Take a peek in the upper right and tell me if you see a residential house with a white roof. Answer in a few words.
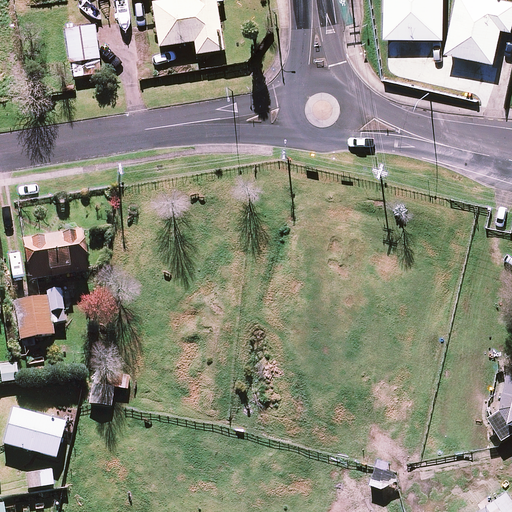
Yes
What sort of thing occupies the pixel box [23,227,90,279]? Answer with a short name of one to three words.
house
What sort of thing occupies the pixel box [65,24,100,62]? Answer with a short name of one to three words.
shed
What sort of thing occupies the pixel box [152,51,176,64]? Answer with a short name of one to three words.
vehicle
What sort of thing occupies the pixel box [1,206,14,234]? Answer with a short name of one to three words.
vehicle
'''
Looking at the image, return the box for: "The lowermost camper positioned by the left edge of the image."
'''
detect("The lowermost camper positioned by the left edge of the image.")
[8,251,23,281]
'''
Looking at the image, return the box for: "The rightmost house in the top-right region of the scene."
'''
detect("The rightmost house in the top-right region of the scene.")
[444,0,512,65]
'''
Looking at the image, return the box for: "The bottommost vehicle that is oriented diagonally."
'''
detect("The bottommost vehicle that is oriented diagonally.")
[100,44,123,71]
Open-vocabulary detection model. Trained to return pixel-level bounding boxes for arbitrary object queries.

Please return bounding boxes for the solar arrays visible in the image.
[490,412,508,439]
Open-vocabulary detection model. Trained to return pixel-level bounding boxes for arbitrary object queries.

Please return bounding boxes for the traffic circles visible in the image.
[304,92,340,128]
